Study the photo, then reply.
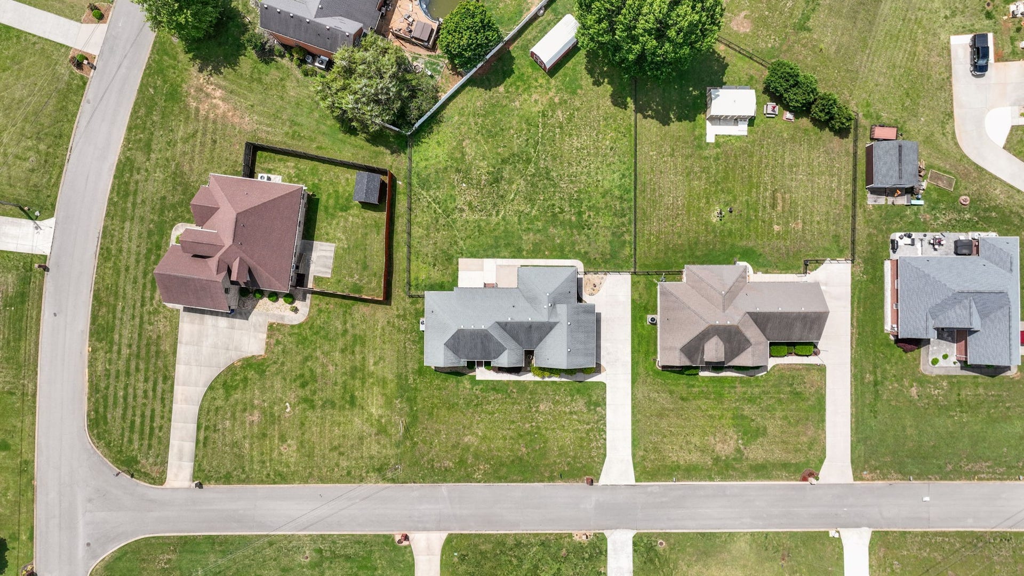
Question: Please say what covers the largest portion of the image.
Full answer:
Most of the picture is covered by grass.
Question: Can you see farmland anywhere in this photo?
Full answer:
No, there's no farmland in this view.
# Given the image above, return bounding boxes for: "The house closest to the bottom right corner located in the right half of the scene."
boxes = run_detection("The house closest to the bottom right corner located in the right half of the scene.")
[890,237,1021,366]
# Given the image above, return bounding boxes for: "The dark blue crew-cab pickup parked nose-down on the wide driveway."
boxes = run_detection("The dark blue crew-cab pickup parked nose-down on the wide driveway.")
[969,33,991,75]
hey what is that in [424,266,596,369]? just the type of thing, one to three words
house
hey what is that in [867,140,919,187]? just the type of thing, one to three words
shed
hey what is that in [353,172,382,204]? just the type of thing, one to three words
shed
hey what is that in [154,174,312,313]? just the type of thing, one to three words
house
